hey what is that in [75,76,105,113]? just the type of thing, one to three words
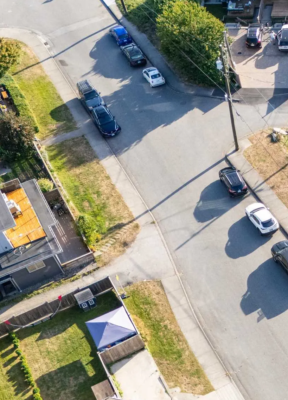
car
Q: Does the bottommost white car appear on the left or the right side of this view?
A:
right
